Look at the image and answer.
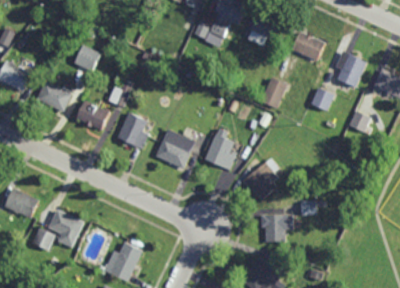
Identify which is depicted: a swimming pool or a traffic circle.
swimming pool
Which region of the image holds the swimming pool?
bottom left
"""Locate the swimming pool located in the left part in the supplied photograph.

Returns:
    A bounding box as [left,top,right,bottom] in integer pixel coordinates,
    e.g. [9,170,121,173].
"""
[82,227,110,265]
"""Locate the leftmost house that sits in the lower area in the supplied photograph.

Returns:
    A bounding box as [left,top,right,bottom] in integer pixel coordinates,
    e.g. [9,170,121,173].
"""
[4,189,40,218]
